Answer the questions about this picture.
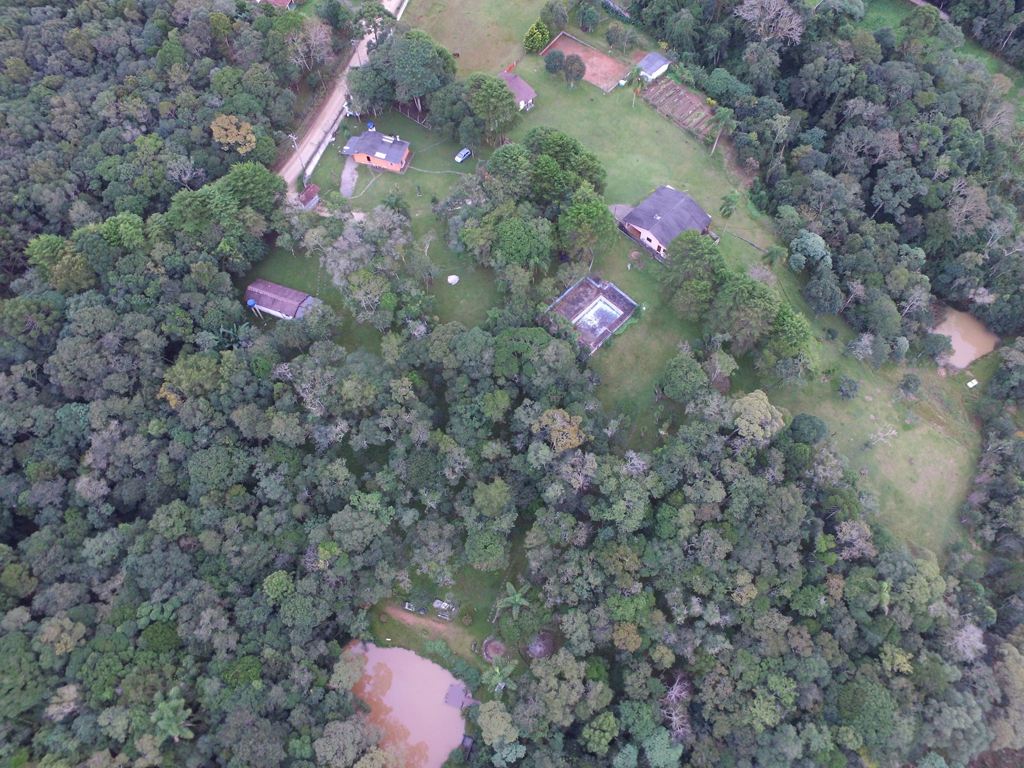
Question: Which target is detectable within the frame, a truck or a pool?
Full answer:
Looking from above, you can make out a pool.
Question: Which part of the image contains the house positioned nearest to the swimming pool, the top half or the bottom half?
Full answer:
The house positioned nearest to the swimming pool is in the top half of the image.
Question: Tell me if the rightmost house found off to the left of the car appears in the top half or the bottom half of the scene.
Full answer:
Seen from above, the rightmost house found off to the left of the car lies in the top half of the view.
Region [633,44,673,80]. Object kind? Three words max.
shed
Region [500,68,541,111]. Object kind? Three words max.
building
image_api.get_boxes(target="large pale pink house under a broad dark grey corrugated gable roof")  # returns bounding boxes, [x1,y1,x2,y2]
[620,189,709,257]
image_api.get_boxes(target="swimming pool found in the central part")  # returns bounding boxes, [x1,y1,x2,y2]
[545,274,639,356]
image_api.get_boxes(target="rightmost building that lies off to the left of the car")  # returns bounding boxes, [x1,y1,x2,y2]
[338,126,411,171]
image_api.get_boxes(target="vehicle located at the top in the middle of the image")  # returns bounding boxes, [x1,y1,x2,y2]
[453,144,473,162]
